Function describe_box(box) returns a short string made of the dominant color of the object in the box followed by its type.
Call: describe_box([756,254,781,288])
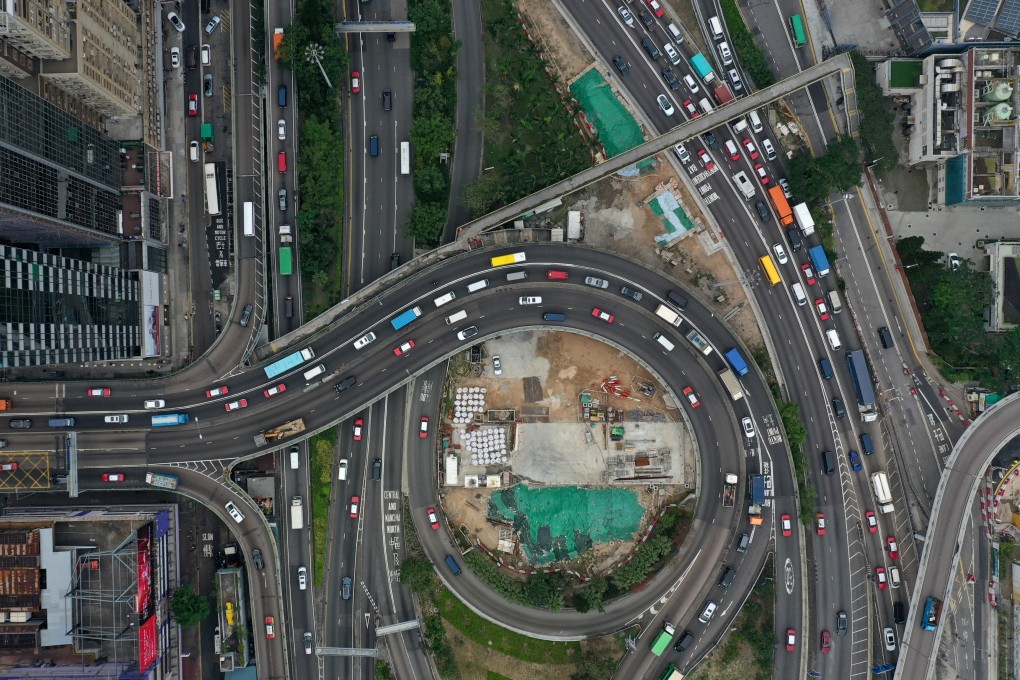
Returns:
yellow bus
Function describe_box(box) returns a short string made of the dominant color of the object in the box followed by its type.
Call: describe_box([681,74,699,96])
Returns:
white car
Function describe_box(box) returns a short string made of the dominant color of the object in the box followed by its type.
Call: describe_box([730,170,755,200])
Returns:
white truck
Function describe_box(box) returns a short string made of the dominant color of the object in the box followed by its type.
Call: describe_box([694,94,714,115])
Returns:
white vehicle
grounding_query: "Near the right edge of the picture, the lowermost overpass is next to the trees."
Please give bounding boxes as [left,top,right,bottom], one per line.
[890,391,1020,680]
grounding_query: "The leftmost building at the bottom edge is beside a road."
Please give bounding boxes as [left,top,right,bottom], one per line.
[0,506,184,680]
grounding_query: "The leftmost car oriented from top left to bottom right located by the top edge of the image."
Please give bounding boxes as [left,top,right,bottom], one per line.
[167,11,186,33]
